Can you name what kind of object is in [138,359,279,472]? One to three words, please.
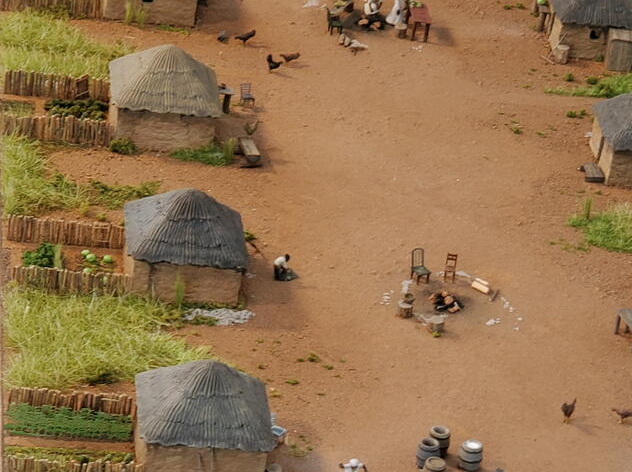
shed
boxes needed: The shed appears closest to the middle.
[124,187,249,303]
